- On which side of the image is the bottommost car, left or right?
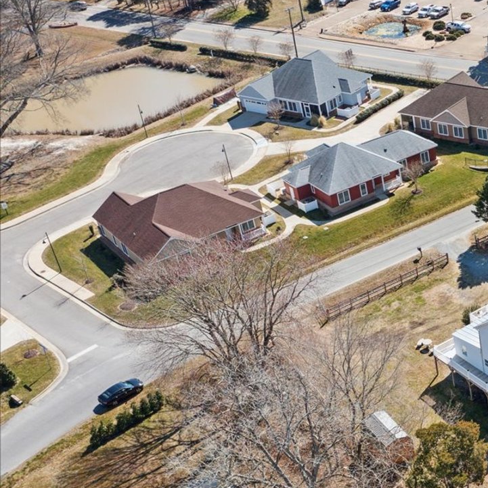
left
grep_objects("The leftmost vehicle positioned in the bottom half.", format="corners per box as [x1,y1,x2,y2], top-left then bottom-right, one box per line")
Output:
[89,373,149,403]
